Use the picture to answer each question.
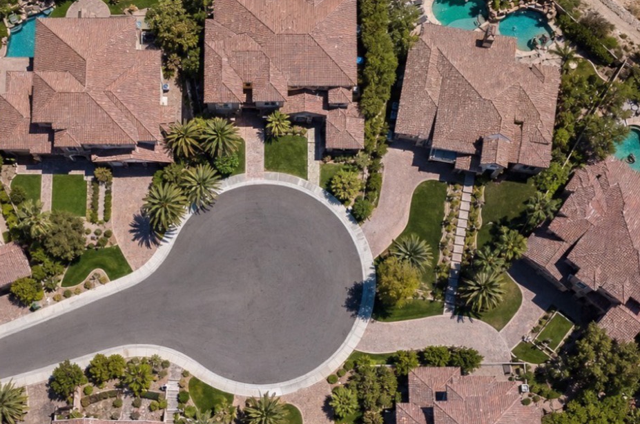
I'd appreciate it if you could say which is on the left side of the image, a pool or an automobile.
pool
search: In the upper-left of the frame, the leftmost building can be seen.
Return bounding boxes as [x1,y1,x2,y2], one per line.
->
[0,16,176,168]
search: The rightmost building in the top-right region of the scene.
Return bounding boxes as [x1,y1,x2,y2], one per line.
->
[394,17,561,179]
